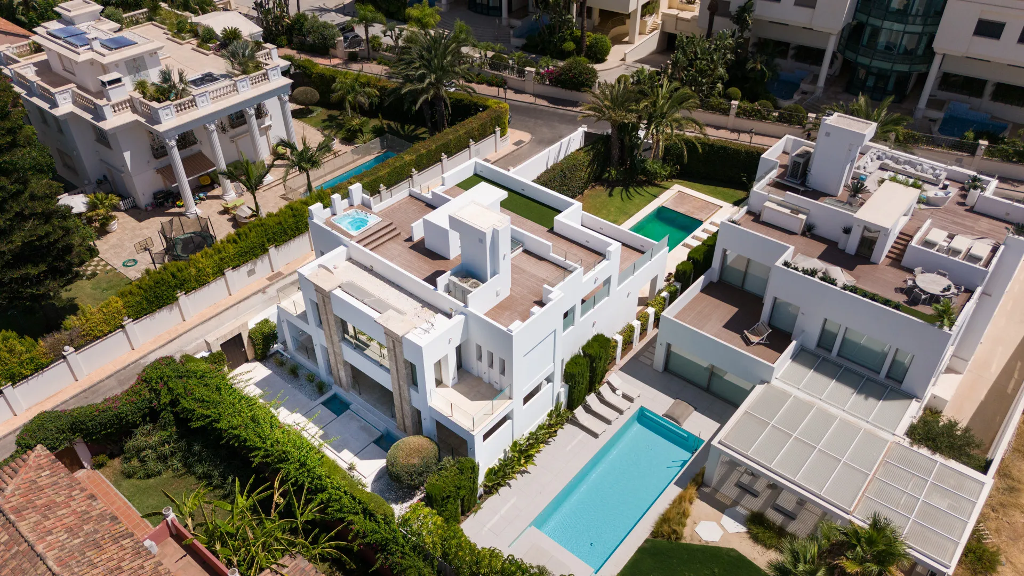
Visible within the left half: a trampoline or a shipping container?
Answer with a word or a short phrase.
trampoline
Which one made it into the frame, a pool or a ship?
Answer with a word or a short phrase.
pool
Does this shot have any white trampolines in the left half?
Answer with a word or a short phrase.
No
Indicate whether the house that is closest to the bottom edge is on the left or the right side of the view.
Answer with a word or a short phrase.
left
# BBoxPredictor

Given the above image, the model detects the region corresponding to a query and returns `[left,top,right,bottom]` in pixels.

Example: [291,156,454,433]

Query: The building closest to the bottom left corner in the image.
[0,437,228,576]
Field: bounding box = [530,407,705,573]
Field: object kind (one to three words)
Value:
swimming pool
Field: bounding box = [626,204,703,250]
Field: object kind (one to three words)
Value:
swimming pool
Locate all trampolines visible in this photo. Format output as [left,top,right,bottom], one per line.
[158,208,218,260]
